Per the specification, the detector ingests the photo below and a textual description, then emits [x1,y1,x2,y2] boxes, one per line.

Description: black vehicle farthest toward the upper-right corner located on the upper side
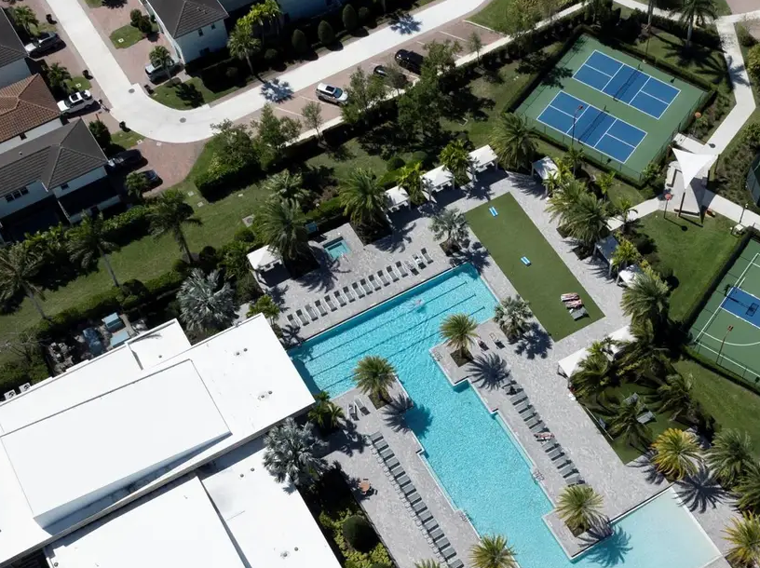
[395,45,429,71]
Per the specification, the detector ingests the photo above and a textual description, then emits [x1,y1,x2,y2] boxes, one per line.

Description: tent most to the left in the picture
[249,243,285,283]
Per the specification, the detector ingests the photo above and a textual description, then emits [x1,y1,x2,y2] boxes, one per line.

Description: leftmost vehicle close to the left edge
[26,33,62,57]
